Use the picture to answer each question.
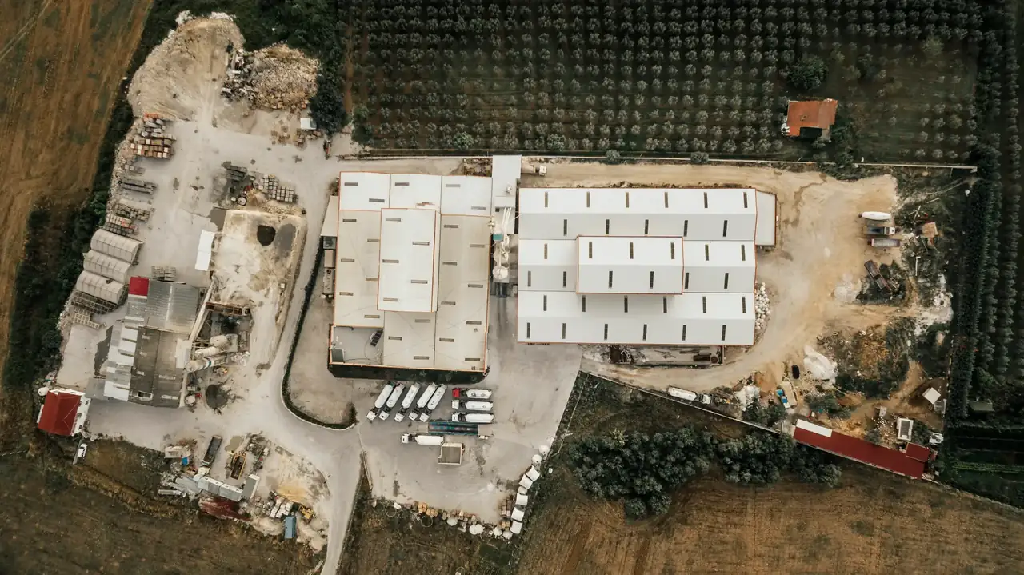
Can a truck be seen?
Yes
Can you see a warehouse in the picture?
Yes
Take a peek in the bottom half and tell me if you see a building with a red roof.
Yes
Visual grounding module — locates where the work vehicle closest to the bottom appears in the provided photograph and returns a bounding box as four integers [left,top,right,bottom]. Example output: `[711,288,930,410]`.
[294,499,317,518]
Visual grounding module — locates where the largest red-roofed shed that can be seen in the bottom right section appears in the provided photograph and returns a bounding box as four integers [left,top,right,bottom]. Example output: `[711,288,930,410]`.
[791,419,925,480]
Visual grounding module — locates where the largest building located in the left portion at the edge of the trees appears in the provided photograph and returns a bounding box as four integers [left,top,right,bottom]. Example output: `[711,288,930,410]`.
[327,172,492,373]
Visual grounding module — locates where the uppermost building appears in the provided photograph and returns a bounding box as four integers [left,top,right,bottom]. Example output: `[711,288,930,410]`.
[784,99,838,138]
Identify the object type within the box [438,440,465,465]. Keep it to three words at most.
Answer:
building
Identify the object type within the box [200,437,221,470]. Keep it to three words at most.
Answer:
truck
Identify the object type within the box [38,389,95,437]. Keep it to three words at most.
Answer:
house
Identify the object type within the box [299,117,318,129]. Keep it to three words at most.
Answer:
vehicle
